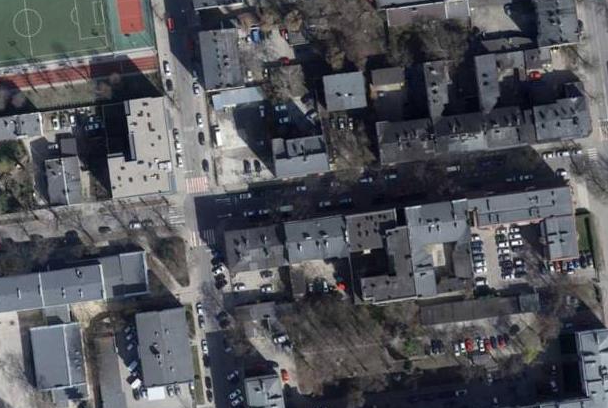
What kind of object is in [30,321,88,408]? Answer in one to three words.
building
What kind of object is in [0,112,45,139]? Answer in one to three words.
house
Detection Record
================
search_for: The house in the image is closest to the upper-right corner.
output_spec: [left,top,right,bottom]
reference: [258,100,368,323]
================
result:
[532,0,579,47]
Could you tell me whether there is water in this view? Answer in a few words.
No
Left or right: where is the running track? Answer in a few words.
left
